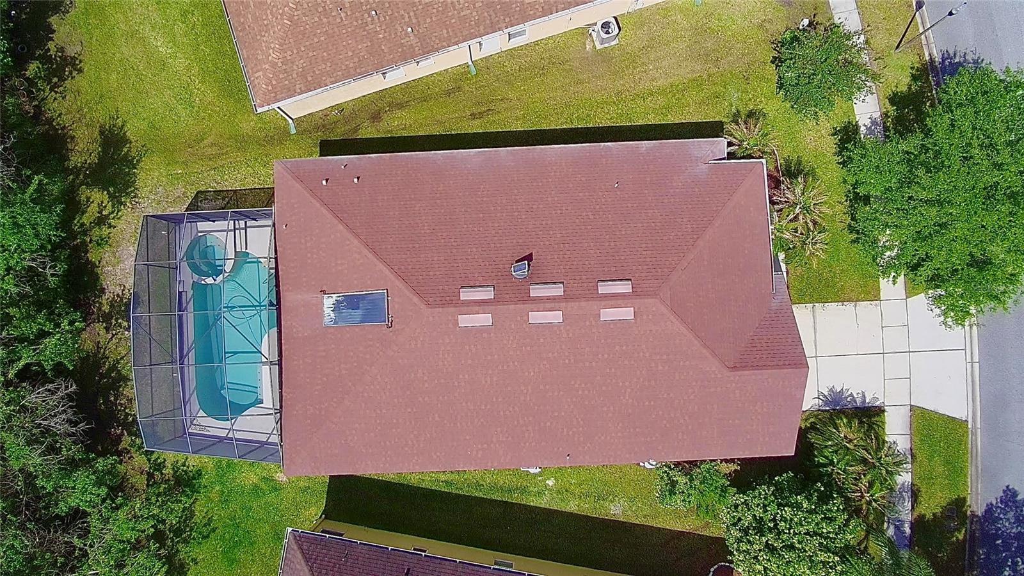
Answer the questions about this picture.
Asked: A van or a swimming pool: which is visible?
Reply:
swimming pool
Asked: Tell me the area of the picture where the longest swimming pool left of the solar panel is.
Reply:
left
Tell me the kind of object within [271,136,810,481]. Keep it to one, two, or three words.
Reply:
house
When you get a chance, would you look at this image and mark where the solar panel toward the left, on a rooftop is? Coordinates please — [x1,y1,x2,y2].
[319,290,393,329]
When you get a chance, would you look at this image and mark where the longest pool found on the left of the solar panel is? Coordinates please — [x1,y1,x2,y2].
[192,250,280,421]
